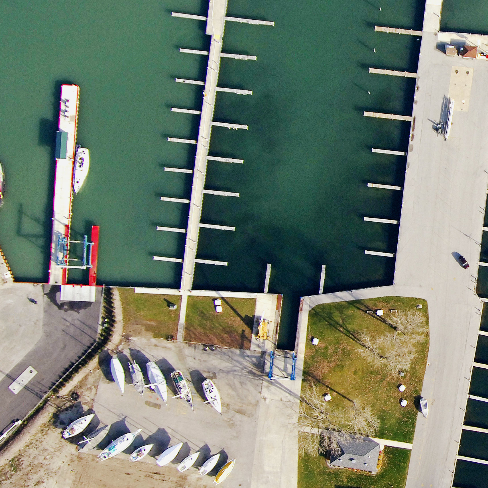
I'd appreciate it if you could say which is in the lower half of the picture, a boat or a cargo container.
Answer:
boat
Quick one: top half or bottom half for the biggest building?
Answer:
bottom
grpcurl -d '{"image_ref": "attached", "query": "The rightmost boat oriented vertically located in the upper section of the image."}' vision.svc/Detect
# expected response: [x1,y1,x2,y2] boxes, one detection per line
[74,148,90,194]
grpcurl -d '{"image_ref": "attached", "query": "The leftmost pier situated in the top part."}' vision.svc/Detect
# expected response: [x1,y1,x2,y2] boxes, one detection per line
[48,85,81,284]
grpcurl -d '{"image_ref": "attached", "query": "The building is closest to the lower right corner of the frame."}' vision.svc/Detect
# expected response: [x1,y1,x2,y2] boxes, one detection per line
[330,438,380,473]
